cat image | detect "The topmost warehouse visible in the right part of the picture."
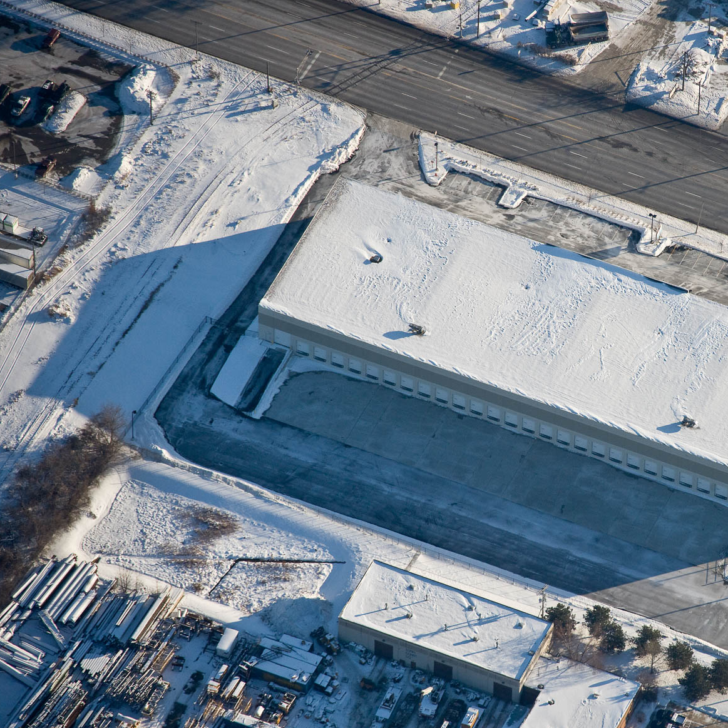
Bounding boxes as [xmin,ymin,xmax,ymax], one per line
[257,177,728,503]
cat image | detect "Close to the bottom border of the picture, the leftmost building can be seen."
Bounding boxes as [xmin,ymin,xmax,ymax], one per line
[338,540,565,700]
